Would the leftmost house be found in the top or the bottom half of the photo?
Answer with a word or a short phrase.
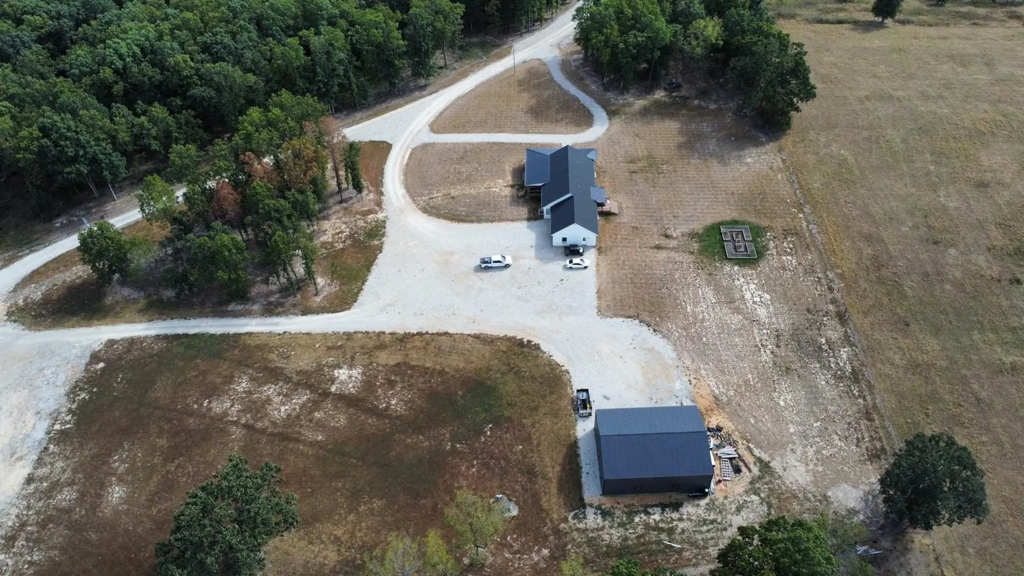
top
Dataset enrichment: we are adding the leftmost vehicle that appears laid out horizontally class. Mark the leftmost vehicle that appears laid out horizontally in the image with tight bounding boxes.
[480,255,512,269]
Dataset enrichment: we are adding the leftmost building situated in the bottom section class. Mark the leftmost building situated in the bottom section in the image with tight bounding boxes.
[590,403,717,496]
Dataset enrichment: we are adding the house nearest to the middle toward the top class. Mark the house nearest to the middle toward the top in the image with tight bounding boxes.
[525,144,618,249]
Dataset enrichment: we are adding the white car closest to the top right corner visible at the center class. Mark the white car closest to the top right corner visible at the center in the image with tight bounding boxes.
[564,256,590,268]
